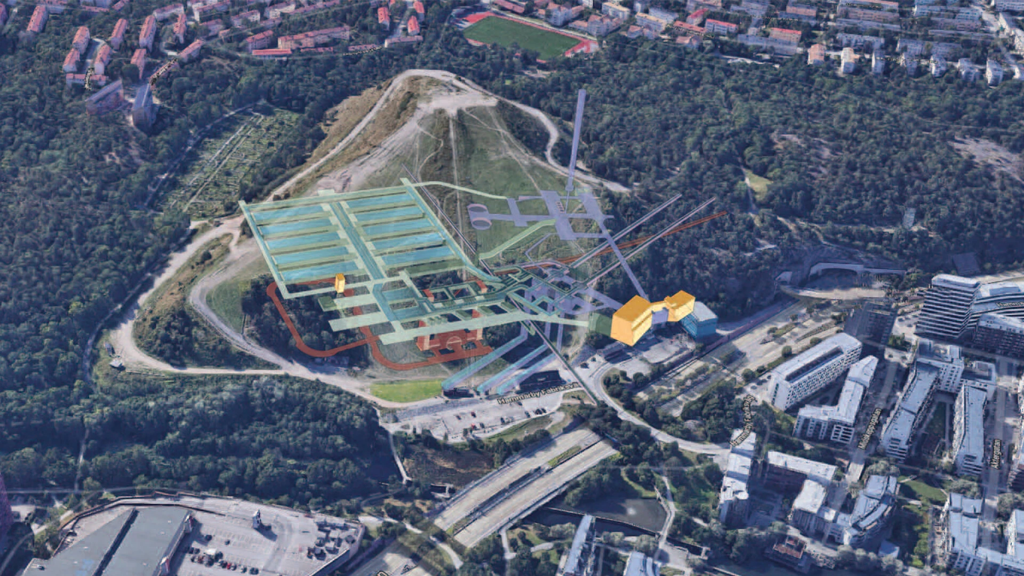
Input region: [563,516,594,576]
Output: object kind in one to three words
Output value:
building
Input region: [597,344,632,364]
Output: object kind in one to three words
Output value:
shed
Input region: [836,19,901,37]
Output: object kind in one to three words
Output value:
house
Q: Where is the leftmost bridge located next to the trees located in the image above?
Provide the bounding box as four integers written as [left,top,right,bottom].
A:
[431,425,620,550]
